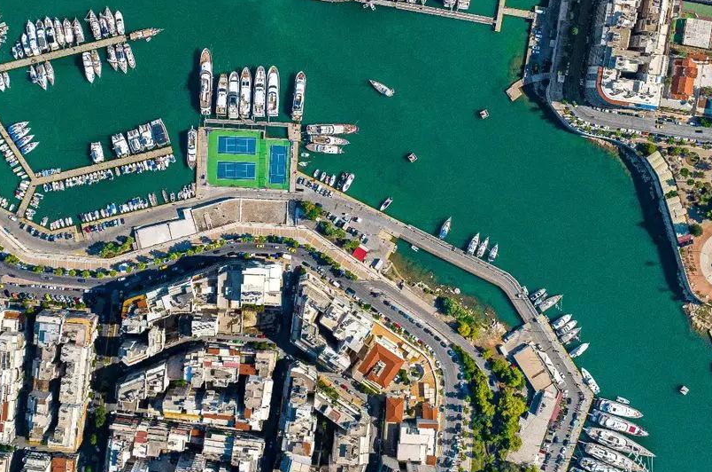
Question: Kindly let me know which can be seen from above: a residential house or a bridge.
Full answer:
It is a residential house that can be seen here.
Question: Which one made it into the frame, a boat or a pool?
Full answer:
Visible in the photo is a boat.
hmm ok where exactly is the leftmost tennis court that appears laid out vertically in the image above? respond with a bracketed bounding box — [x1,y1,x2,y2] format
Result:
[270,145,287,183]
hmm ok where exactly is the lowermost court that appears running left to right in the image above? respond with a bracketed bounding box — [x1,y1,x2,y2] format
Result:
[217,162,256,179]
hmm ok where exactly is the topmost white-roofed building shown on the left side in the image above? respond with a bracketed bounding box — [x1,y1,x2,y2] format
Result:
[135,211,198,249]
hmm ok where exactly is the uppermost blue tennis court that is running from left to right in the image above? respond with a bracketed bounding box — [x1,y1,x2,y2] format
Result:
[217,137,257,155]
